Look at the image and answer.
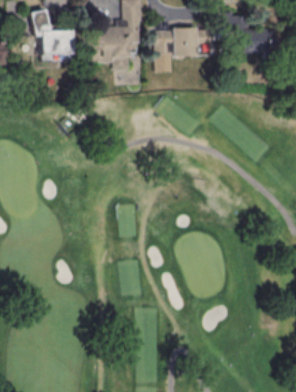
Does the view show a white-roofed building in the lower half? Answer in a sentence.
No, no white-roofed building appears in the lower half.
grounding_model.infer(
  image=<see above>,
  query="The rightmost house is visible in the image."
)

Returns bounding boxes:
[155,27,205,72]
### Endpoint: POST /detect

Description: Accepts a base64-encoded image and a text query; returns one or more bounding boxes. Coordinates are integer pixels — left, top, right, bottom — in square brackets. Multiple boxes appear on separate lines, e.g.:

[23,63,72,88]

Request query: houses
[155,27,205,72]
[90,0,143,85]
[0,42,8,66]
[30,7,76,60]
